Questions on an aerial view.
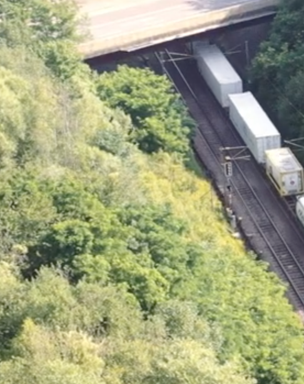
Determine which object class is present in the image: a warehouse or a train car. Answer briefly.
train car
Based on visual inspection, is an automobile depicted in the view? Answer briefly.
No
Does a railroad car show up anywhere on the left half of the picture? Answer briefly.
No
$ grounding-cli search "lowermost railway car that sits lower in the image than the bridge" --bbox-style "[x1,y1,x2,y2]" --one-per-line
[265,167,304,229]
